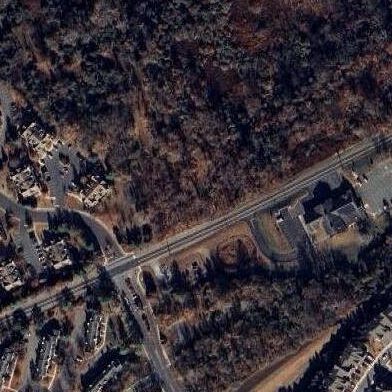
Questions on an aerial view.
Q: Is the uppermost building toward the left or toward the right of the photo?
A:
left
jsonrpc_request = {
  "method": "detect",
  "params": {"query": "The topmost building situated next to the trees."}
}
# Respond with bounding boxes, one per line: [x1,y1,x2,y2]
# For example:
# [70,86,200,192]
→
[18,117,54,154]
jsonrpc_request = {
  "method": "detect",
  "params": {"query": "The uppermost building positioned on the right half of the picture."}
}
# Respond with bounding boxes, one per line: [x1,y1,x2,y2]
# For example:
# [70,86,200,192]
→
[309,201,363,244]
